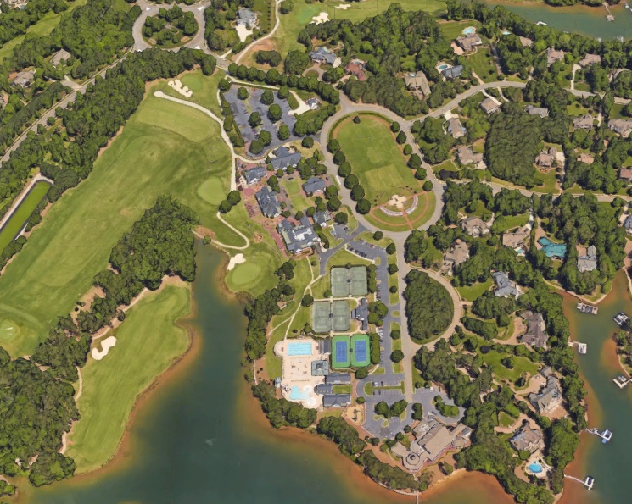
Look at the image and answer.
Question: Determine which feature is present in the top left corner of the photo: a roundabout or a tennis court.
roundabout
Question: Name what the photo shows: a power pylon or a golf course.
golf course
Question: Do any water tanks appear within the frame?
No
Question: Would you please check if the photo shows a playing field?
Yes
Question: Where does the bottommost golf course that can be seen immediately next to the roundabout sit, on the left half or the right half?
left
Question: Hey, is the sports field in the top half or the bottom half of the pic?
top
